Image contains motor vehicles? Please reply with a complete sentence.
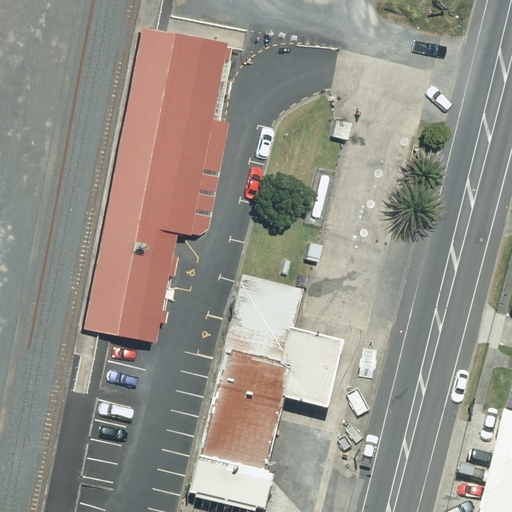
Yes, the photo shows a motor vehicle.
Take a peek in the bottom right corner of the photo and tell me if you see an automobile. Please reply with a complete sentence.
Yes, the scene does show an automobile in the bottom right corner of the photo.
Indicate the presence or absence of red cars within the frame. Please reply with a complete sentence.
Yes, a red car appears in the view.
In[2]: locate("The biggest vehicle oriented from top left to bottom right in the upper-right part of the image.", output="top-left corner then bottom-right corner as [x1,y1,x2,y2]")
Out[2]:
[424,84,452,114]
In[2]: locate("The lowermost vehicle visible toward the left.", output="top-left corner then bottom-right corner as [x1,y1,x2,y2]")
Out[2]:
[98,425,128,442]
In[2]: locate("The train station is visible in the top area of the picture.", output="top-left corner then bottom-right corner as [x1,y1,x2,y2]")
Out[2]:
[82,28,232,344]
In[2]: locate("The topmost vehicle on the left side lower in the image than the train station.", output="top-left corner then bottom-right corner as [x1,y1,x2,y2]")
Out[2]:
[110,348,138,363]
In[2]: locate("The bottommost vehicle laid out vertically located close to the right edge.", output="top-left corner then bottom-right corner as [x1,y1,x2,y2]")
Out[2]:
[480,408,497,441]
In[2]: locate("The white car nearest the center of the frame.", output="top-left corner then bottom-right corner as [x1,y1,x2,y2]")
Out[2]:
[256,126,274,160]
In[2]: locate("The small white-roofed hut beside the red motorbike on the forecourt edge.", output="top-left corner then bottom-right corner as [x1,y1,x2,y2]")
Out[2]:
[332,120,352,141]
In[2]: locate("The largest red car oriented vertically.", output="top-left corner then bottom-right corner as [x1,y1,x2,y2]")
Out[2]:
[246,166,263,200]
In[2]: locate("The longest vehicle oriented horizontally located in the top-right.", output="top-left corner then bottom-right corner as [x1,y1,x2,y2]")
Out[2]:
[410,40,448,58]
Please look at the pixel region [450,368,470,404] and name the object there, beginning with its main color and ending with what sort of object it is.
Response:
white car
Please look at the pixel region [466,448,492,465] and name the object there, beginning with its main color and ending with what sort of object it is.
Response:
gray car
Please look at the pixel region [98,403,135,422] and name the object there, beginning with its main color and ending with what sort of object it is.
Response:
white car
